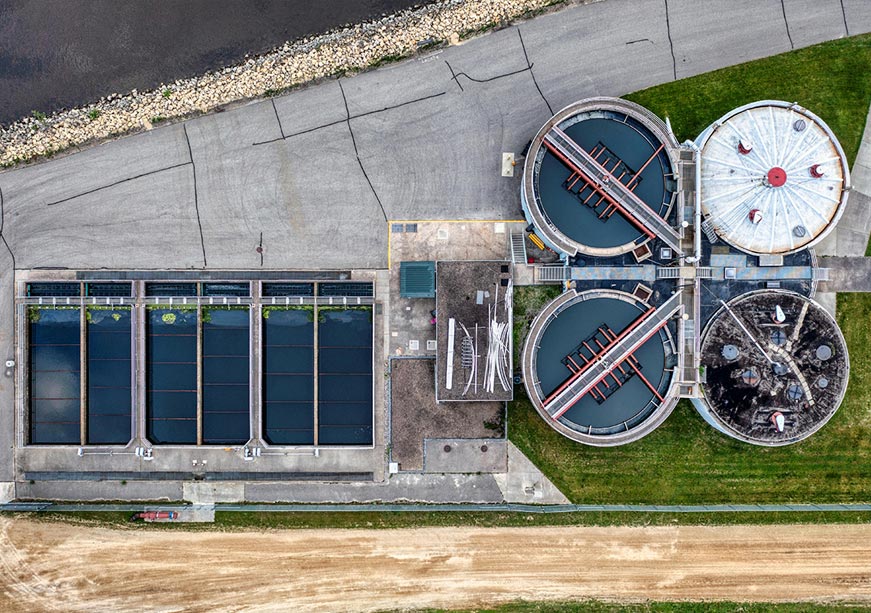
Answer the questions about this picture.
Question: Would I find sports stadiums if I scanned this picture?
No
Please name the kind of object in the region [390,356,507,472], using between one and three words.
building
